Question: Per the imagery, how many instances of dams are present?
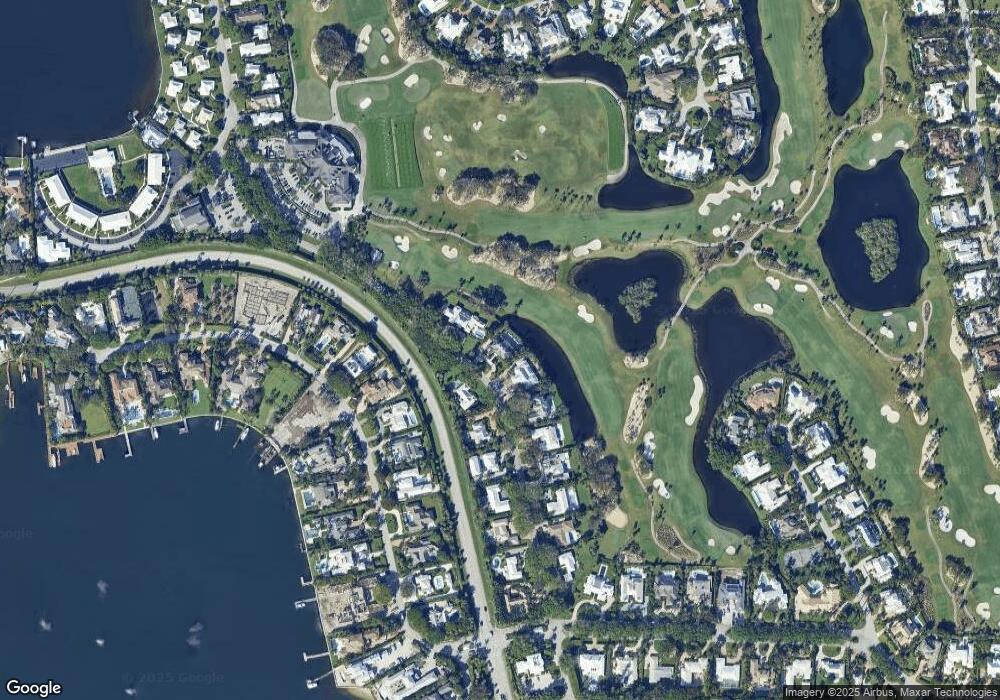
none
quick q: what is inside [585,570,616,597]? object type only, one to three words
house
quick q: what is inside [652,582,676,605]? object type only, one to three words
house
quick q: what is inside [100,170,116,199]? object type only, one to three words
swimming pool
